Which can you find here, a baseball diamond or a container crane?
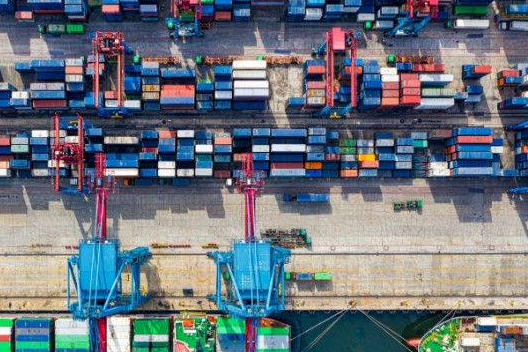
container crane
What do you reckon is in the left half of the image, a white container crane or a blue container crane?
blue container crane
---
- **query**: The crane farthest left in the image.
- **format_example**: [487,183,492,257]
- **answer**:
[53,112,96,196]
